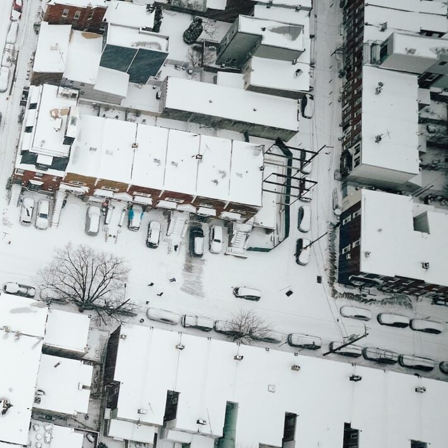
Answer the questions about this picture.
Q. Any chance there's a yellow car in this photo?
No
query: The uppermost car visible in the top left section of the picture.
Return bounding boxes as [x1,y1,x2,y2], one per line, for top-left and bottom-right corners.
[9,0,23,21]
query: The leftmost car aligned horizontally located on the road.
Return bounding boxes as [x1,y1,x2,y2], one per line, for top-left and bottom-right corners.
[4,283,34,298]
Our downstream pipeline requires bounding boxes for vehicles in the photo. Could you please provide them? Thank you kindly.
[187,228,203,255]
[0,41,15,70]
[296,209,311,231]
[400,355,431,370]
[289,334,317,350]
[212,322,241,336]
[339,306,369,322]
[9,0,23,21]
[125,206,141,231]
[297,177,312,203]
[328,342,361,357]
[41,289,70,303]
[232,286,261,303]
[377,313,407,329]
[35,202,50,229]
[5,22,19,43]
[145,223,160,248]
[300,96,314,118]
[411,318,446,335]
[4,283,34,298]
[147,308,179,325]
[248,329,277,346]
[363,348,395,365]
[179,315,214,332]
[18,199,35,226]
[208,227,225,253]
[84,208,100,235]
[294,238,310,266]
